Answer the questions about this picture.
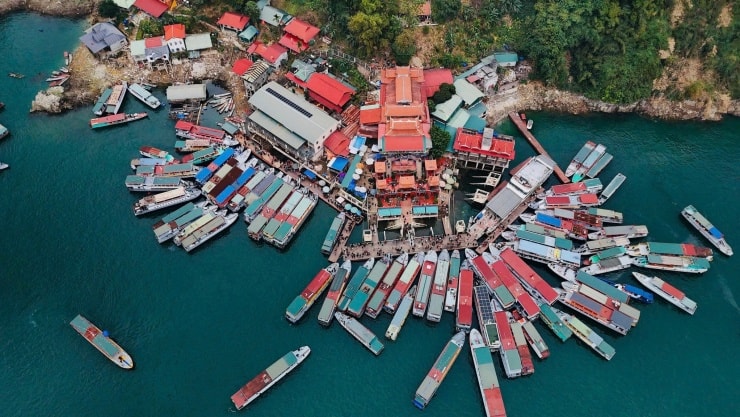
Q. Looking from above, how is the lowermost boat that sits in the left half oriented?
at an angle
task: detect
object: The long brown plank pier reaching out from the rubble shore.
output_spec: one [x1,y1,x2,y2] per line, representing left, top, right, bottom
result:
[508,113,575,183]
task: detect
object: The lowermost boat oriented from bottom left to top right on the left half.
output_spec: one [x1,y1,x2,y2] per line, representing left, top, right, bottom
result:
[229,348,310,413]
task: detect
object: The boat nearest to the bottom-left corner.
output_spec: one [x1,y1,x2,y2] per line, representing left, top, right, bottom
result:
[69,314,132,369]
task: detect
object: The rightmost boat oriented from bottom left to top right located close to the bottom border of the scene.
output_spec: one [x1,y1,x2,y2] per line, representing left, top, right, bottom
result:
[408,329,462,411]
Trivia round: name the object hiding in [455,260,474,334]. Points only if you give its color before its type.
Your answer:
red boat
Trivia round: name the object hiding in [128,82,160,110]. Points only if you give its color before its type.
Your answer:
white boat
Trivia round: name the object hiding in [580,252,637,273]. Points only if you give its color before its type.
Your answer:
white boat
